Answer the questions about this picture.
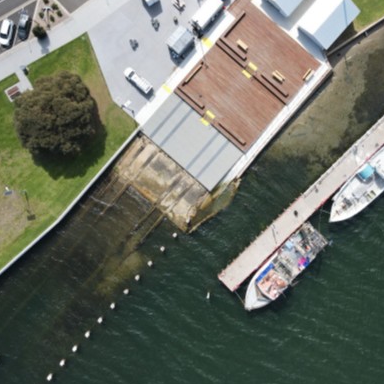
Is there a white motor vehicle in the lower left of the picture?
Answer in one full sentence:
No, in the lower left of the picture there is no white motor vehicle.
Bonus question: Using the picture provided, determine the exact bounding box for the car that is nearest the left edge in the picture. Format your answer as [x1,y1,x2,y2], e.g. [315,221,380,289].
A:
[0,18,17,49]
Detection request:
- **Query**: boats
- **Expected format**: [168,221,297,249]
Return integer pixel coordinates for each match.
[329,149,384,223]
[247,223,327,311]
